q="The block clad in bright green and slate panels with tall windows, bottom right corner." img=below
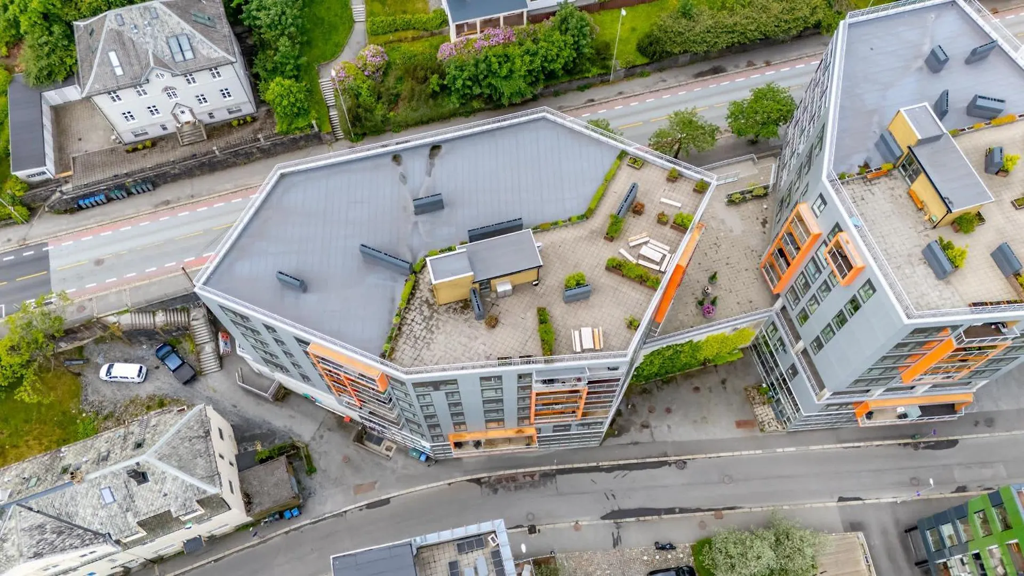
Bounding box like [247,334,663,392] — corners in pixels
[904,477,1024,576]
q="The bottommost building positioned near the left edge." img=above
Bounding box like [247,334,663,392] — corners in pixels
[0,404,251,576]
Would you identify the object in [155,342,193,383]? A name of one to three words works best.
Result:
truck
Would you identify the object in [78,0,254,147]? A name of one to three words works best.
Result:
house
